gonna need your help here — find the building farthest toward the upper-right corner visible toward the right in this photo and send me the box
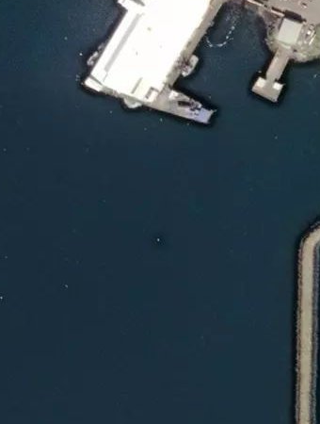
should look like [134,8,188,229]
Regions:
[278,18,301,43]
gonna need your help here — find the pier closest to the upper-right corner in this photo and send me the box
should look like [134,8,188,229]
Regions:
[266,46,289,81]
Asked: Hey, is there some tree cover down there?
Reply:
No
